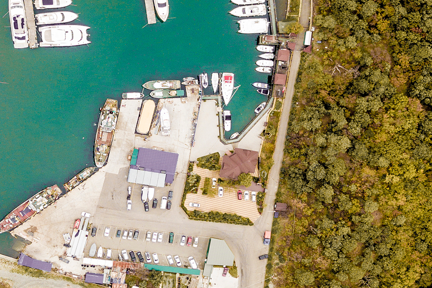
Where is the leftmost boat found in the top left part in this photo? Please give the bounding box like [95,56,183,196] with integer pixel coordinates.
[9,0,29,51]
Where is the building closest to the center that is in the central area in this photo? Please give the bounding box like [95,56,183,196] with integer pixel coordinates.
[220,148,259,178]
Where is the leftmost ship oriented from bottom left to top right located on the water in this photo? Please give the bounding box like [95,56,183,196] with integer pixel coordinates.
[0,185,61,230]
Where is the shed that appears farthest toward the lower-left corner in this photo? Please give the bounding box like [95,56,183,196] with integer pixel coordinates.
[19,253,52,272]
